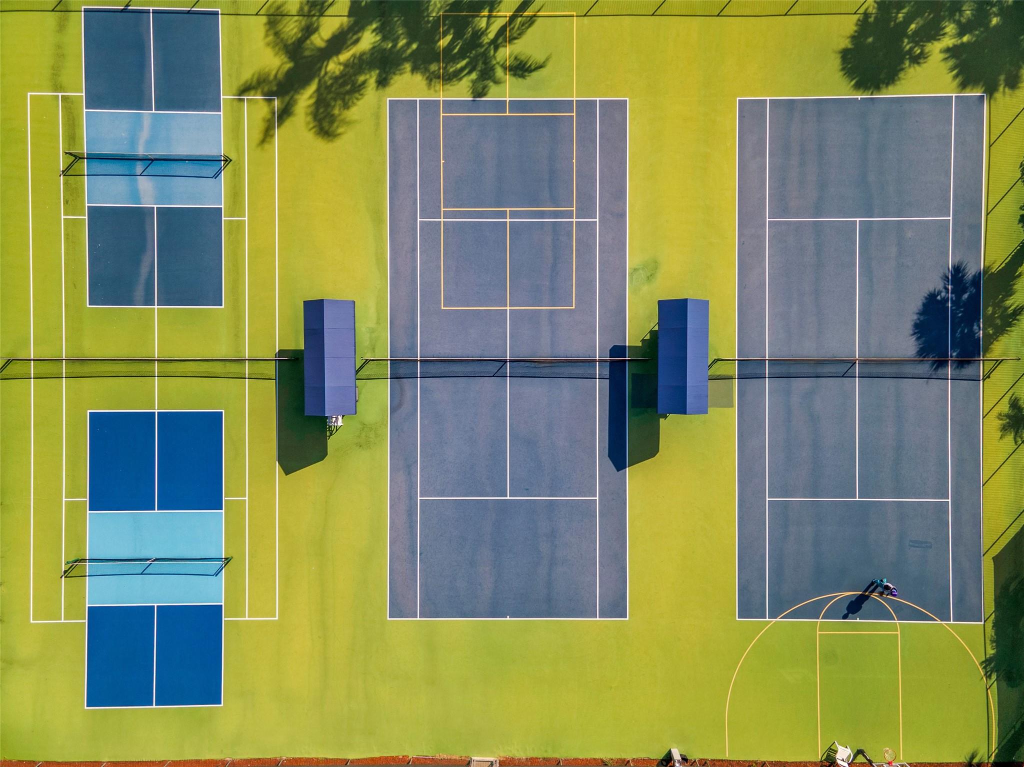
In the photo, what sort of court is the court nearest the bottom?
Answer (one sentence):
I'd identify the court nearest the bottom as a basketball court.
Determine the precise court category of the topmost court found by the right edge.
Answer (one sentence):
Looking closely, the topmost court found by the right edge is a tennis court.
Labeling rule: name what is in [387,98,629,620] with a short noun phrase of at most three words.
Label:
tennis court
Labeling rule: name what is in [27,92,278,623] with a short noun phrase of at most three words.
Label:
tennis court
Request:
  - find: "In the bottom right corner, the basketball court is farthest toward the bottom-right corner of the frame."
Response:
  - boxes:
[726,592,995,760]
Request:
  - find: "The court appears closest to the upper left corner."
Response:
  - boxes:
[82,7,224,307]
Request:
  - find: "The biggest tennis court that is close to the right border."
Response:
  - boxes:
[736,93,986,624]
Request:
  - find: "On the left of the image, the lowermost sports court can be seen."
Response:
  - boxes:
[85,410,224,709]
